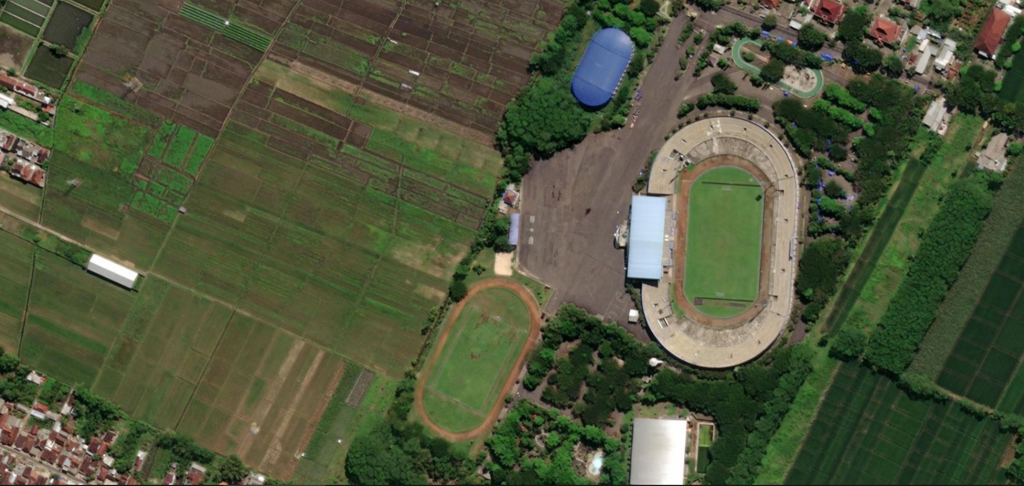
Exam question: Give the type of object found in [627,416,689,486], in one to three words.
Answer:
building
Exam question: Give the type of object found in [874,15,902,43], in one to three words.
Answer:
house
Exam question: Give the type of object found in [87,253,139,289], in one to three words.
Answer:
building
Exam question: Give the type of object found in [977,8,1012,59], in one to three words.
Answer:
house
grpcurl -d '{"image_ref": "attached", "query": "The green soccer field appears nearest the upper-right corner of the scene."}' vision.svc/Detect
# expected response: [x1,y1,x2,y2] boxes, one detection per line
[684,166,763,318]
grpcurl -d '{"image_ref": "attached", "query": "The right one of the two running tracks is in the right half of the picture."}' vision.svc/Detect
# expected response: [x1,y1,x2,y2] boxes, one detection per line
[670,155,773,331]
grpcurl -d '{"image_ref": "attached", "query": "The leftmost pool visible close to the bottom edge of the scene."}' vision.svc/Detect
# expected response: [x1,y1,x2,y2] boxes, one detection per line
[585,448,606,479]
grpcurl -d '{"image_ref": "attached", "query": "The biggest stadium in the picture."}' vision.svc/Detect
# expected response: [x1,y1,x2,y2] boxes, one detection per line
[640,115,801,368]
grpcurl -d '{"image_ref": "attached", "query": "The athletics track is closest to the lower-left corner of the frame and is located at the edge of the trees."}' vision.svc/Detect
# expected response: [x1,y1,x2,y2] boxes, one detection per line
[416,277,541,442]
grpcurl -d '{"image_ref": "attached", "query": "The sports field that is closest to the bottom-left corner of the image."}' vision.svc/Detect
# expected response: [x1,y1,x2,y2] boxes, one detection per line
[422,288,531,433]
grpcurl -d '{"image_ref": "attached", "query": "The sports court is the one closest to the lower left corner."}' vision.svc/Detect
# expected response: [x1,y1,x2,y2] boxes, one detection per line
[494,252,513,276]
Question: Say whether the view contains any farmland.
Yes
